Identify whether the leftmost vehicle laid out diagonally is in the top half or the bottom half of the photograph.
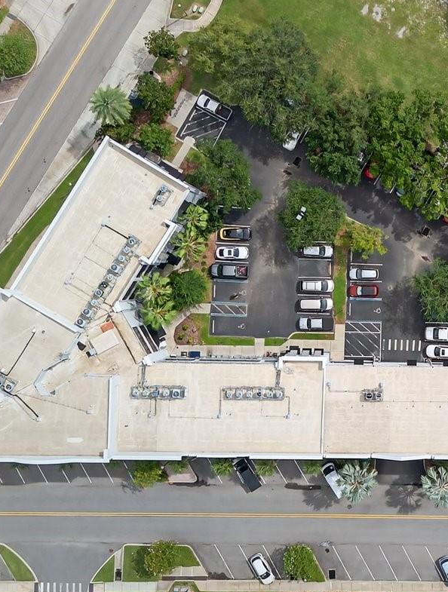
top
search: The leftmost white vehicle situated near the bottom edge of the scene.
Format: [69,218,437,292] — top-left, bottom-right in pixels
[250,551,275,584]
